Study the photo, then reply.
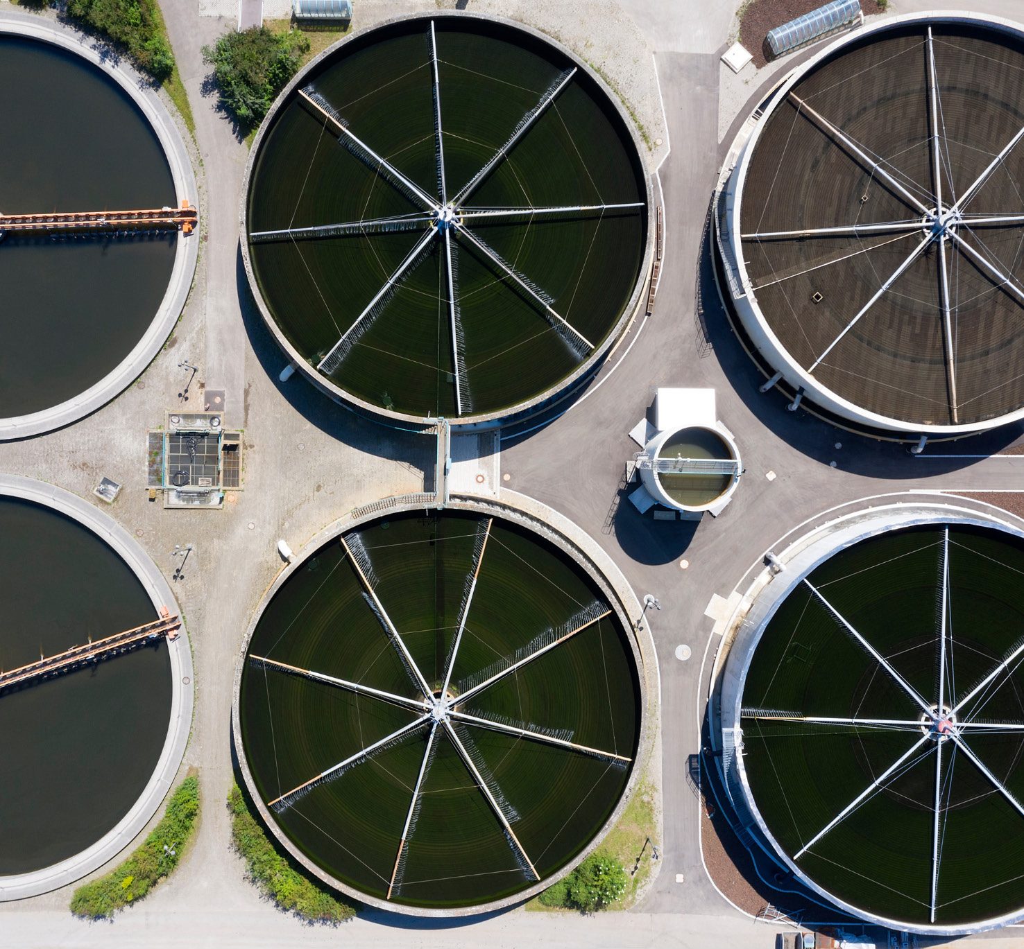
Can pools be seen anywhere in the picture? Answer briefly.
No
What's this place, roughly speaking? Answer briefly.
industrial area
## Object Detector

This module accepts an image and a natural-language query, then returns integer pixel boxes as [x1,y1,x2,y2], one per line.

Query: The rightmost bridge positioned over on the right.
[653,452,747,475]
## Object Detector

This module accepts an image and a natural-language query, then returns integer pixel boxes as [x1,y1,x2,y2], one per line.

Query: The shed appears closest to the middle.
[655,388,715,438]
